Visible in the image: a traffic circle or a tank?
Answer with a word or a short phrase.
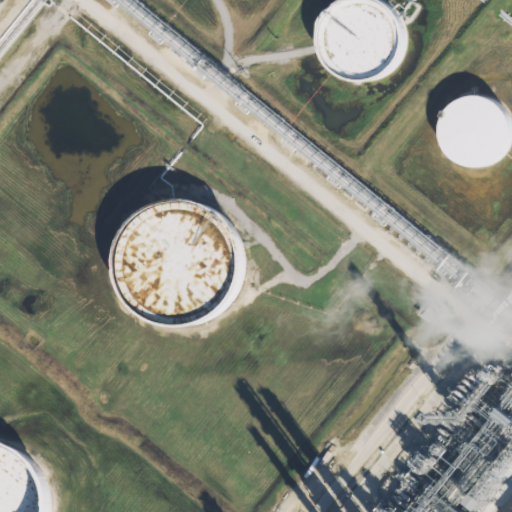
tank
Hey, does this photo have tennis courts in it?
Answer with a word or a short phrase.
No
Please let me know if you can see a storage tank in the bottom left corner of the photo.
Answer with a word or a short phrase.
Yes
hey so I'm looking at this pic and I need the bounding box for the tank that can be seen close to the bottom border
[0,441,49,512]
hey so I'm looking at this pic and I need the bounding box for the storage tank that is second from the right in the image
[314,0,408,83]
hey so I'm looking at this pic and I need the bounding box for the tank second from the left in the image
[110,198,246,330]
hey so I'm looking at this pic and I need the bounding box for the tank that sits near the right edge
[436,91,512,172]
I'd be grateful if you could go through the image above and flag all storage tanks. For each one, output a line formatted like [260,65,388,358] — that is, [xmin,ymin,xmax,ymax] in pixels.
[110,198,246,330]
[314,0,408,83]
[436,91,512,172]
[0,441,49,512]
